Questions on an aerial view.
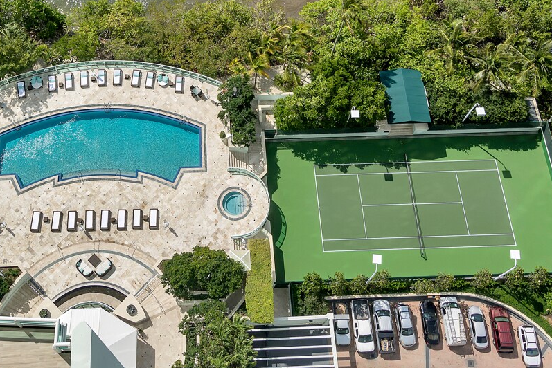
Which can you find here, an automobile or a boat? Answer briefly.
automobile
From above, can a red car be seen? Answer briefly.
Yes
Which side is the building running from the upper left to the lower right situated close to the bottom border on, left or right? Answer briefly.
left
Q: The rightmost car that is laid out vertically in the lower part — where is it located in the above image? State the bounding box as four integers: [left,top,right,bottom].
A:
[516,325,541,368]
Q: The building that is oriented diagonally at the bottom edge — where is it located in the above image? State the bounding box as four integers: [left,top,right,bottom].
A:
[60,307,137,368]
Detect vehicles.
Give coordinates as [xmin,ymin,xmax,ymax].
[489,307,515,353]
[372,300,396,354]
[332,300,354,345]
[516,325,541,368]
[393,301,417,347]
[466,306,490,349]
[439,298,466,346]
[418,301,441,345]
[352,300,374,352]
